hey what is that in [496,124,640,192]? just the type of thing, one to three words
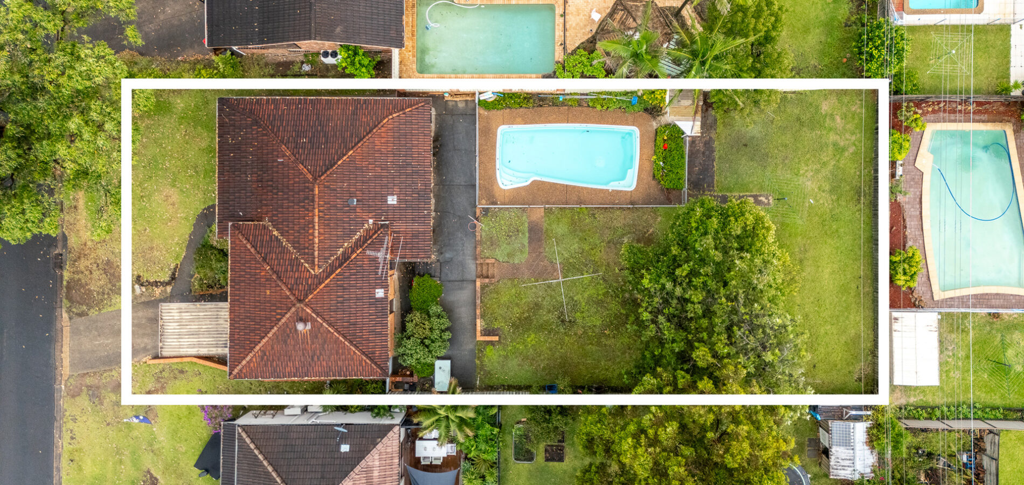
swimming pool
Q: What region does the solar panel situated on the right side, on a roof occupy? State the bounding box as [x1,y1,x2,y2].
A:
[831,422,850,447]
